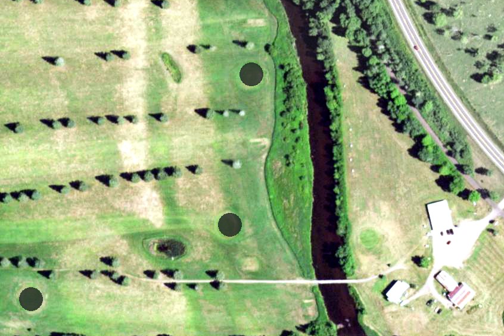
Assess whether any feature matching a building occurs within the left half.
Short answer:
No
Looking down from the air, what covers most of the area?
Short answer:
grass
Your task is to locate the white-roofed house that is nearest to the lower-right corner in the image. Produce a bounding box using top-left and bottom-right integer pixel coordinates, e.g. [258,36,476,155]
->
[435,271,480,306]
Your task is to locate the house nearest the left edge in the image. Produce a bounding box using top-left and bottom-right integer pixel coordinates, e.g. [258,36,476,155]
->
[385,279,412,302]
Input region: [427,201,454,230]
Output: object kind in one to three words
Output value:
shed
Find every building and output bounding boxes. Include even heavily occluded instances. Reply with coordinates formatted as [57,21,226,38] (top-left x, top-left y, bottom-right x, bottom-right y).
[385,279,412,302]
[427,201,454,230]
[435,271,480,306]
